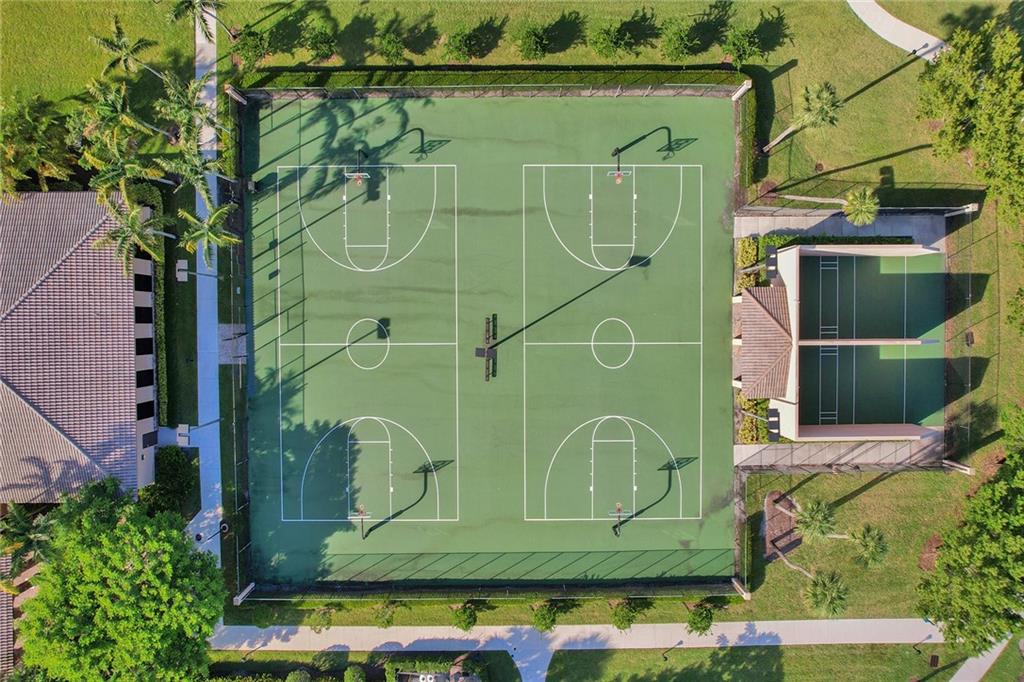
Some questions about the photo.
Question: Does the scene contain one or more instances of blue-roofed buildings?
No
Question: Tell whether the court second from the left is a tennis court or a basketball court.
basketball court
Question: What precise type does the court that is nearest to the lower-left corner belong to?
basketball court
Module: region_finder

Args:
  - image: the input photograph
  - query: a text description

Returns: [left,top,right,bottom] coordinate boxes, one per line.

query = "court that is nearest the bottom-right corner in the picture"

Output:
[799,341,943,427]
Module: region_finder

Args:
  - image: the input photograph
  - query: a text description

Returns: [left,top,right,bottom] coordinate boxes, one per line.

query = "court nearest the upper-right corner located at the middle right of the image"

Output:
[800,254,943,340]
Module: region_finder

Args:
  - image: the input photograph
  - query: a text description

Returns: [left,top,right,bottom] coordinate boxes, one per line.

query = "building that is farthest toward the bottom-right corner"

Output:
[734,286,794,399]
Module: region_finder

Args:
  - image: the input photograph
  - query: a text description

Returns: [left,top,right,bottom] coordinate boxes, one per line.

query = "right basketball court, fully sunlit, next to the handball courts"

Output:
[523,165,702,520]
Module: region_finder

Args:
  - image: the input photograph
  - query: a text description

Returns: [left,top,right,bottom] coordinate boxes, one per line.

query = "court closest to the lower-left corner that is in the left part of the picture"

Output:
[277,165,459,521]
